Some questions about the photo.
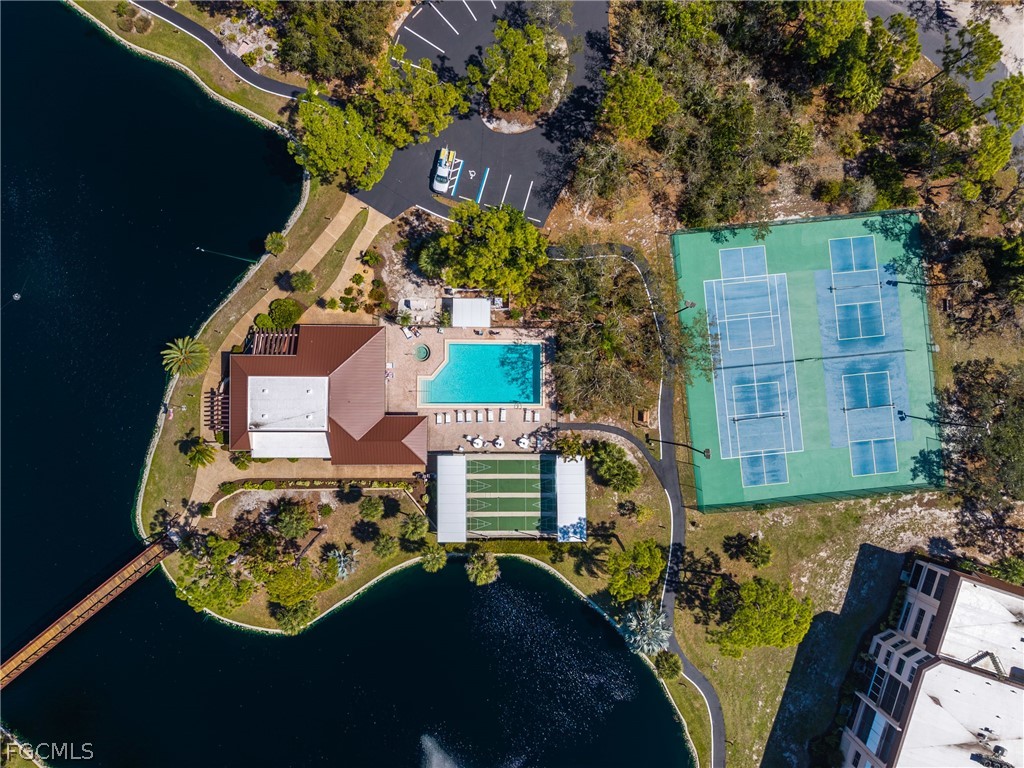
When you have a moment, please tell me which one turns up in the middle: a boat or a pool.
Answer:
pool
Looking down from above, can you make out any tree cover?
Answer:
Yes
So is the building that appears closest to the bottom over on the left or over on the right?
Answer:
right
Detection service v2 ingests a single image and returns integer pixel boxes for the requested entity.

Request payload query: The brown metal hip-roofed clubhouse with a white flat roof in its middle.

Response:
[204,324,428,466]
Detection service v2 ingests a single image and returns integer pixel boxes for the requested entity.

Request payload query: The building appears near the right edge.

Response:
[832,557,1024,768]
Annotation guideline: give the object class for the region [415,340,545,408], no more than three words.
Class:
swimming pool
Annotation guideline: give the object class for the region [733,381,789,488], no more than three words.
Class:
sports court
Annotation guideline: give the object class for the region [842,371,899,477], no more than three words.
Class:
sports court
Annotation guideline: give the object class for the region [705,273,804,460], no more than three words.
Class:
tennis court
